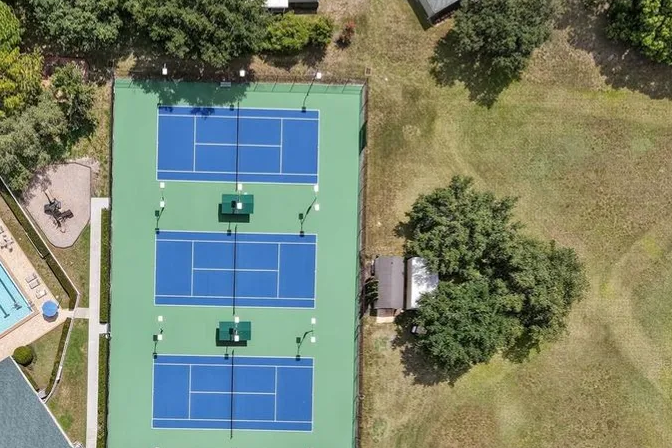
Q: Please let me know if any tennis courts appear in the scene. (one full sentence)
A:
Yes, there's a tennis court down there.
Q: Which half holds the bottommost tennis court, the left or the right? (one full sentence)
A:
It is on the left.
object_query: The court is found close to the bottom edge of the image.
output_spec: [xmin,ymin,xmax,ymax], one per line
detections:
[151,348,315,438]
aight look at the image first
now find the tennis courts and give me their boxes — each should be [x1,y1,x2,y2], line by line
[153,224,317,313]
[156,99,319,189]
[151,348,315,438]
